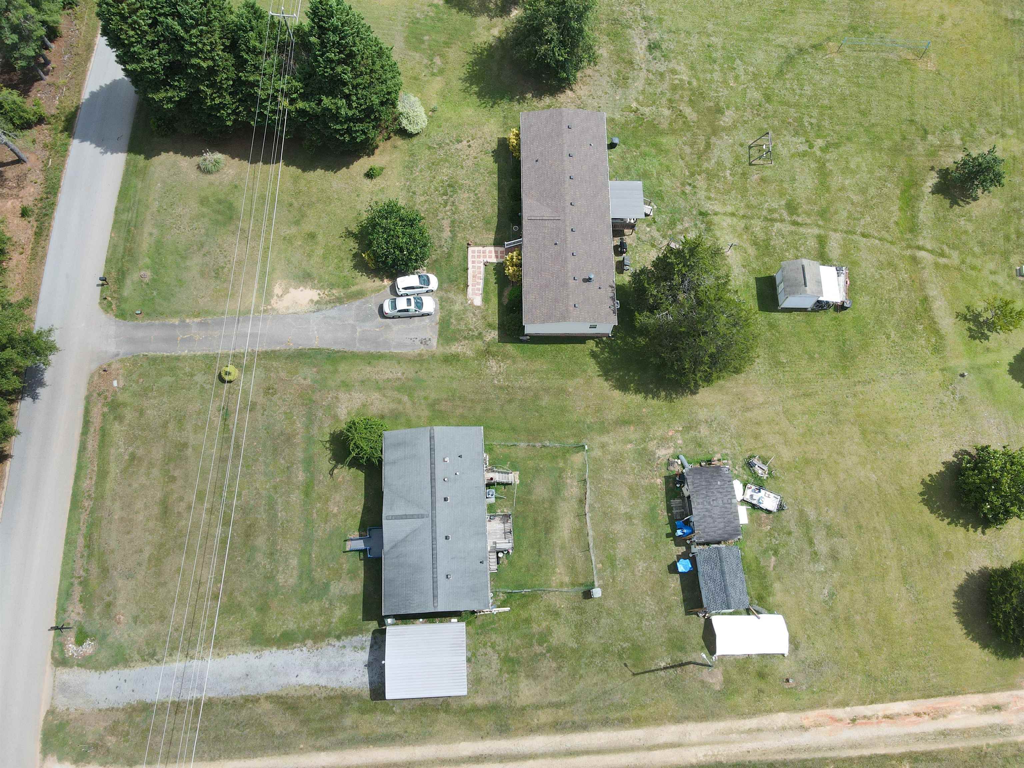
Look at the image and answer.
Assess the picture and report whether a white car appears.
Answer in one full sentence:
Yes, I can see a white car in this picture.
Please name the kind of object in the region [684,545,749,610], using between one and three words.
shed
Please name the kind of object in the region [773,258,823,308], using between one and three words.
shed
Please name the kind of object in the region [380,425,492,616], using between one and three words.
house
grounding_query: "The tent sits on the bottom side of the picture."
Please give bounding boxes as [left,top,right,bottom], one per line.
[707,614,787,656]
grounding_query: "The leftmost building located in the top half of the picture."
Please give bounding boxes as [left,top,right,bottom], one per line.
[520,107,618,338]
